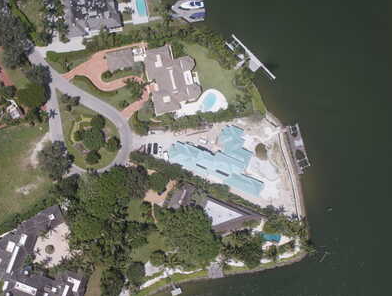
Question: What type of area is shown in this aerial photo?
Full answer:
This looks like a residential area.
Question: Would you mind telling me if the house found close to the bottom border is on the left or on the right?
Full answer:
The house found close to the bottom border appears in the left half of the scene.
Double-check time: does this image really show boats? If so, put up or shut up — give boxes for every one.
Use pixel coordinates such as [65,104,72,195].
[189,12,207,19]
[180,0,206,8]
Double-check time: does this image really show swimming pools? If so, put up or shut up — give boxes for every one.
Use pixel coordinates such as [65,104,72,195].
[203,92,217,111]
[135,0,149,17]
[261,232,281,243]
